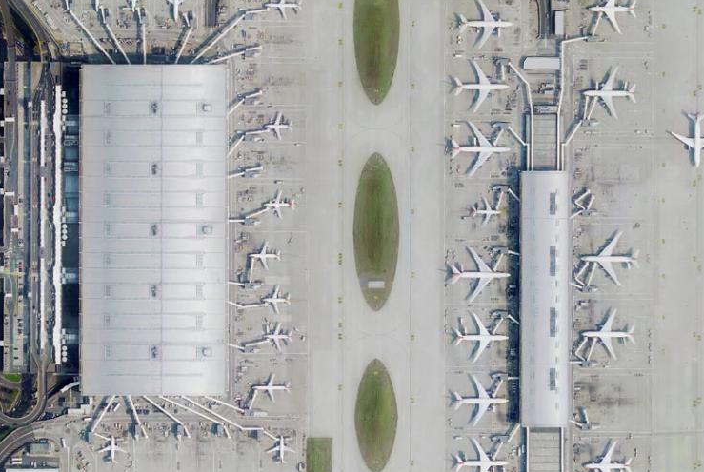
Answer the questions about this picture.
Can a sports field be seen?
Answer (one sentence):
No, the frame has no sports field in it.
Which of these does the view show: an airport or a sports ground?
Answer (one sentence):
This looks like an airport.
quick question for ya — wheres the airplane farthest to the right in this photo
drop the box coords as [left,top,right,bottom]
[671,113,704,167]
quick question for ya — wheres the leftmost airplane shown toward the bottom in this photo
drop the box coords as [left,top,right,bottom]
[100,436,127,463]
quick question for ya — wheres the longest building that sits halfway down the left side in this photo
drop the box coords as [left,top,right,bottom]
[77,64,230,395]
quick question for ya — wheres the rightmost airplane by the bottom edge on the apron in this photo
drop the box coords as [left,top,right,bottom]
[584,442,632,472]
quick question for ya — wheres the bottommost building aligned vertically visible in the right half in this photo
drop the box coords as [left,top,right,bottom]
[521,105,571,472]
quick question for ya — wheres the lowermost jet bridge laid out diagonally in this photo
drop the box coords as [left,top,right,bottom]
[492,424,521,461]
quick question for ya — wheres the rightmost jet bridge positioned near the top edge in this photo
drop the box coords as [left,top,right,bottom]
[558,12,602,171]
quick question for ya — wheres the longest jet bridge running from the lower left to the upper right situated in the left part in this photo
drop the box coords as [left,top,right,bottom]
[191,7,270,64]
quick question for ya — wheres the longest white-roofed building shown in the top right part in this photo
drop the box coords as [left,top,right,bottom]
[524,56,560,69]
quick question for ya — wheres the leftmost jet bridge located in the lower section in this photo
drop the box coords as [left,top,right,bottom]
[85,396,115,441]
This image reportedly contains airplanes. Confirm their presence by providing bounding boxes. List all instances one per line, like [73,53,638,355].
[583,66,636,117]
[456,60,510,112]
[100,436,127,463]
[266,0,301,19]
[253,372,291,402]
[266,190,294,218]
[249,241,281,270]
[455,374,509,426]
[457,312,509,362]
[581,231,639,285]
[268,436,295,463]
[584,442,632,472]
[167,0,185,22]
[262,285,291,314]
[266,112,293,139]
[265,323,292,350]
[590,0,637,32]
[472,198,501,225]
[671,113,704,167]
[457,437,509,472]
[451,247,511,302]
[463,0,513,47]
[582,307,635,358]
[452,122,511,176]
